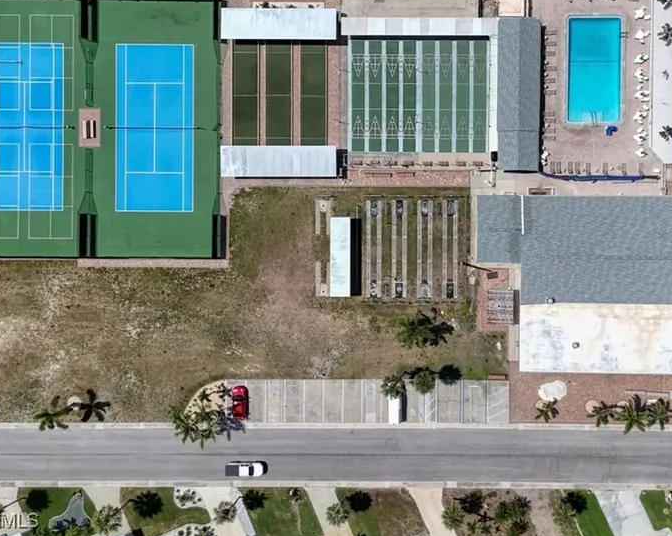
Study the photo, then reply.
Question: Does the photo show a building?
Yes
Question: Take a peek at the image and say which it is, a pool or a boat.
pool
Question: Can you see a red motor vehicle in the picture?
Yes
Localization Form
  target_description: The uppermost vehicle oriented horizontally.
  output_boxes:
[225,461,266,479]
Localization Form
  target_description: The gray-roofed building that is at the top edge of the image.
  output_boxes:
[497,17,541,172]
